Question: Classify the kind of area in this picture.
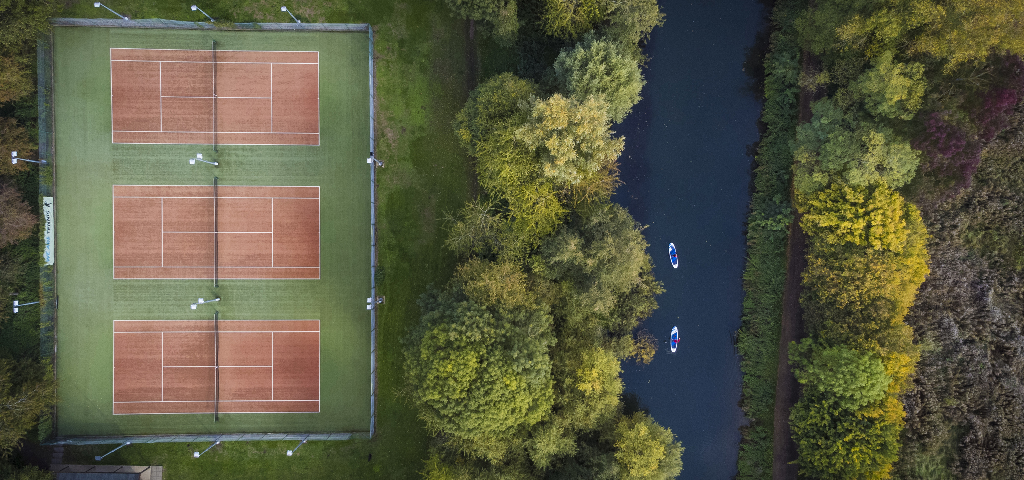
sports ground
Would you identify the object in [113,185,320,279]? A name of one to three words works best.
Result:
tennis court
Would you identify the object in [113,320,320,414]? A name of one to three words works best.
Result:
tennis court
